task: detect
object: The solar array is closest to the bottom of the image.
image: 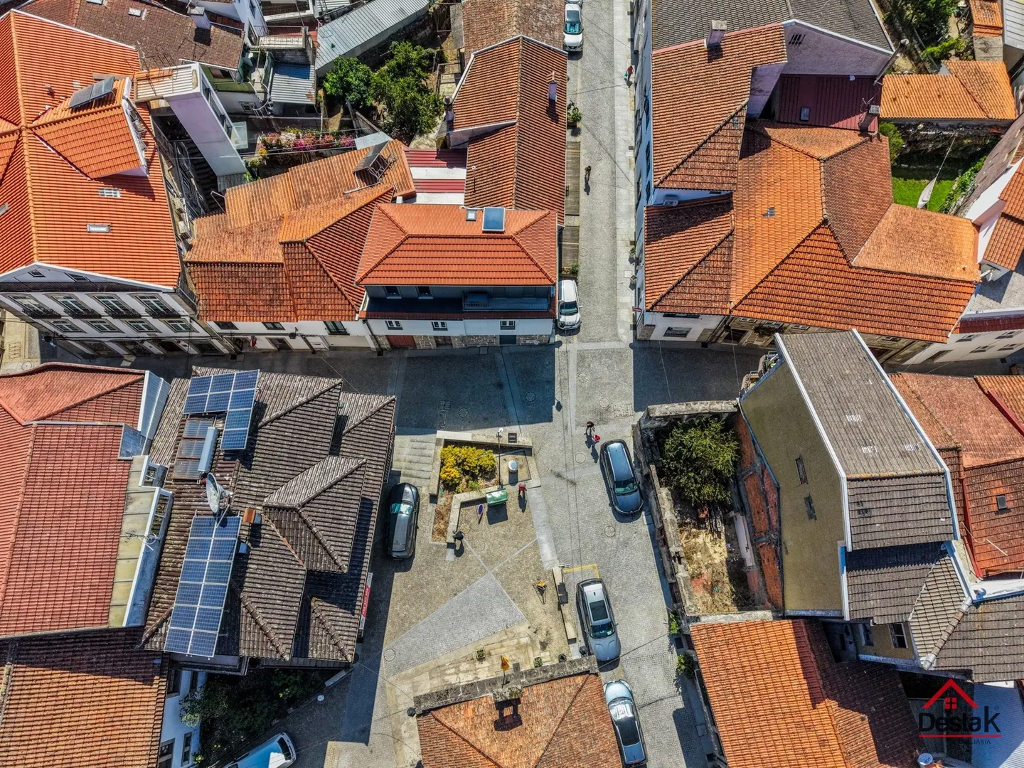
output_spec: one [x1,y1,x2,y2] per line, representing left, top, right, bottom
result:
[164,516,241,657]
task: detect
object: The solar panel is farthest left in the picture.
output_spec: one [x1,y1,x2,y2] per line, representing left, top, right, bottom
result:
[70,77,115,111]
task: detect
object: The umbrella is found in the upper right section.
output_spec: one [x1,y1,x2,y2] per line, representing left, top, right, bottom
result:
[914,139,955,208]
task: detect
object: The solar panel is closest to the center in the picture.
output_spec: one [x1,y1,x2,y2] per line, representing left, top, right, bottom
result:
[473,208,504,232]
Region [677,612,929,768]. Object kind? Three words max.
house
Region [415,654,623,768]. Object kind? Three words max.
house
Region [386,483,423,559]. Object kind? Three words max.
car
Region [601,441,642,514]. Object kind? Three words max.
car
